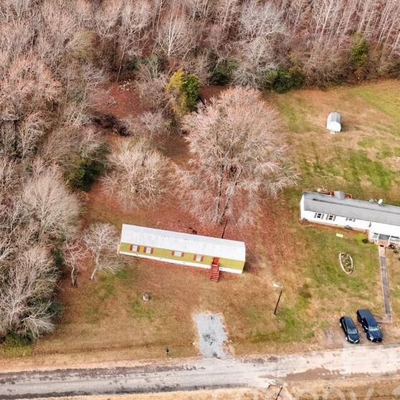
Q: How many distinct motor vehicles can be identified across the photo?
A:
2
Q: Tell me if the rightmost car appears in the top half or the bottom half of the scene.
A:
bottom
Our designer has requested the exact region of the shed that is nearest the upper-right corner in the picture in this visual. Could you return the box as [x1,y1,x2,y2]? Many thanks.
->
[325,109,343,133]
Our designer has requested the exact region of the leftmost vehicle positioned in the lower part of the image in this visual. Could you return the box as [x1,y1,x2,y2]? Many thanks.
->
[339,315,361,342]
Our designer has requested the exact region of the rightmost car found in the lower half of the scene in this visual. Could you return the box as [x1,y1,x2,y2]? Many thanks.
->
[359,310,382,341]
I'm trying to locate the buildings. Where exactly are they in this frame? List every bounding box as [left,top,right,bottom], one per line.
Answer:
[118,223,246,281]
[299,189,400,249]
[325,109,343,133]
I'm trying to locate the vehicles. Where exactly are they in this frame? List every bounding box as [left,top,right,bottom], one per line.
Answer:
[359,310,382,341]
[339,315,361,342]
